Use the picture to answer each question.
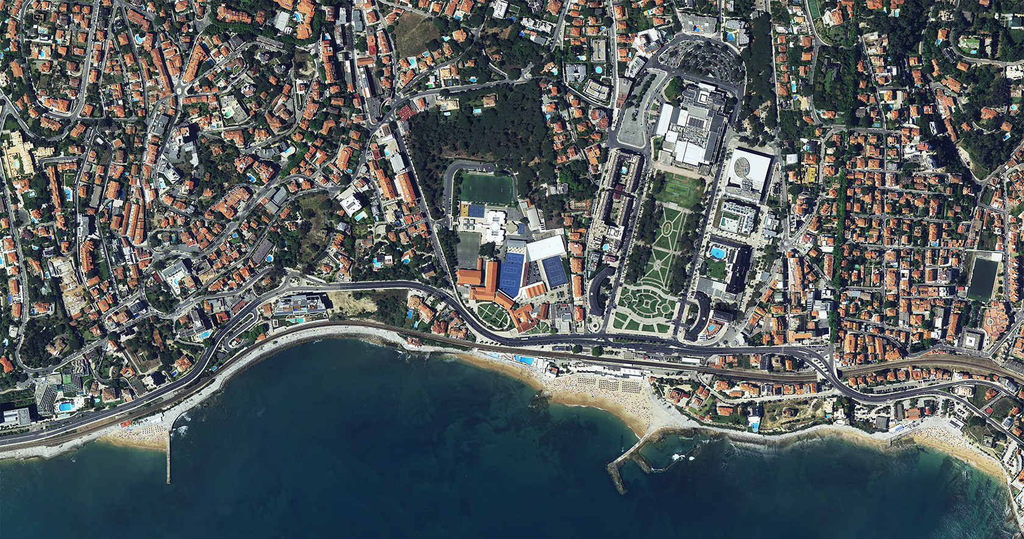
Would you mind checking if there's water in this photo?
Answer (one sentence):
Yes, water shows up in the scene.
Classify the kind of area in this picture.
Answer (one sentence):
The picture captures a residential area.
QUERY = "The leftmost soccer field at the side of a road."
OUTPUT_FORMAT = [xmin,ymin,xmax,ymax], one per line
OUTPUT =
[460,174,514,204]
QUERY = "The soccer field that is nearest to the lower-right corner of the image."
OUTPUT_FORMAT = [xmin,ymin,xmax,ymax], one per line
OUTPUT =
[967,256,1000,303]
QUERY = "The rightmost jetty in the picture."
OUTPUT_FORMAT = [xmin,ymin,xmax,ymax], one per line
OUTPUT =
[607,431,650,493]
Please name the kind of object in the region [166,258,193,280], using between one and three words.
building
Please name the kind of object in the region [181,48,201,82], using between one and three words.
building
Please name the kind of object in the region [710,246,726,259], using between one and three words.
swimming pool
